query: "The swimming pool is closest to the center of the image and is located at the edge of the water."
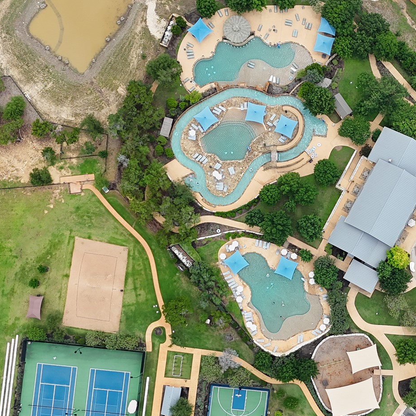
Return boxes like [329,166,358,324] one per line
[199,106,268,162]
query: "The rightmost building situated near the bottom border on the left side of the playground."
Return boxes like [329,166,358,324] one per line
[161,385,183,416]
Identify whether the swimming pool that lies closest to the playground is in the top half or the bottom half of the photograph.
bottom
